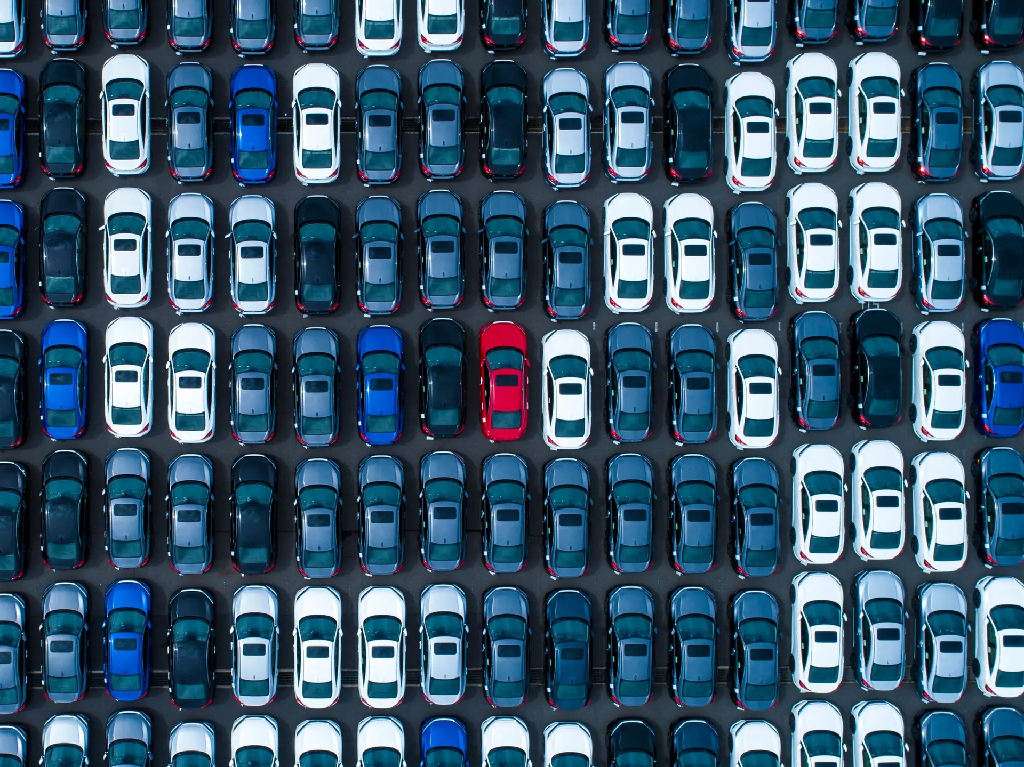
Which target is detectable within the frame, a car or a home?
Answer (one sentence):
The image shows a car.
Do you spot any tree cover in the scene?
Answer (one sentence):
No, no tree cover is visible.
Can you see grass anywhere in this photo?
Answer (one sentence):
No, the picture contains no grass.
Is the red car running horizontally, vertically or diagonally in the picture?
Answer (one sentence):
From this overhead view, the red car appears to run vertically.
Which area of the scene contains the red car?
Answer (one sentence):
The red car is located in the center region of the scene.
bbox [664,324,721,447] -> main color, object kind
blue car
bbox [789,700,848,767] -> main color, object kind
white car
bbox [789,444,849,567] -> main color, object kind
white car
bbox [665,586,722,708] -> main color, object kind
blue car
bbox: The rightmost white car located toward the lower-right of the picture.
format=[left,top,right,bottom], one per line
[971,576,1024,700]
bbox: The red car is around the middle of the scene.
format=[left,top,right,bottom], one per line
[478,321,531,443]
